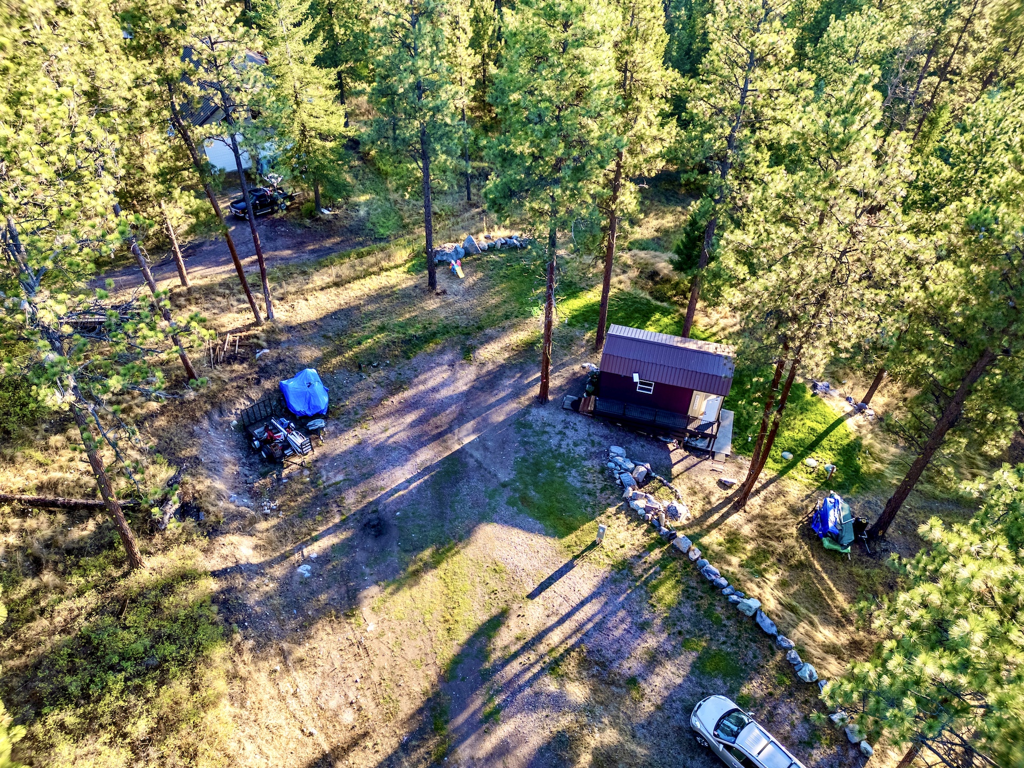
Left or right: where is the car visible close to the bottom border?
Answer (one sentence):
The car visible close to the bottom border sits on the right side.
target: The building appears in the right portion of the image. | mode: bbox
[591,325,737,448]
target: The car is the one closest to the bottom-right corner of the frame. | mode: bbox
[689,697,809,768]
